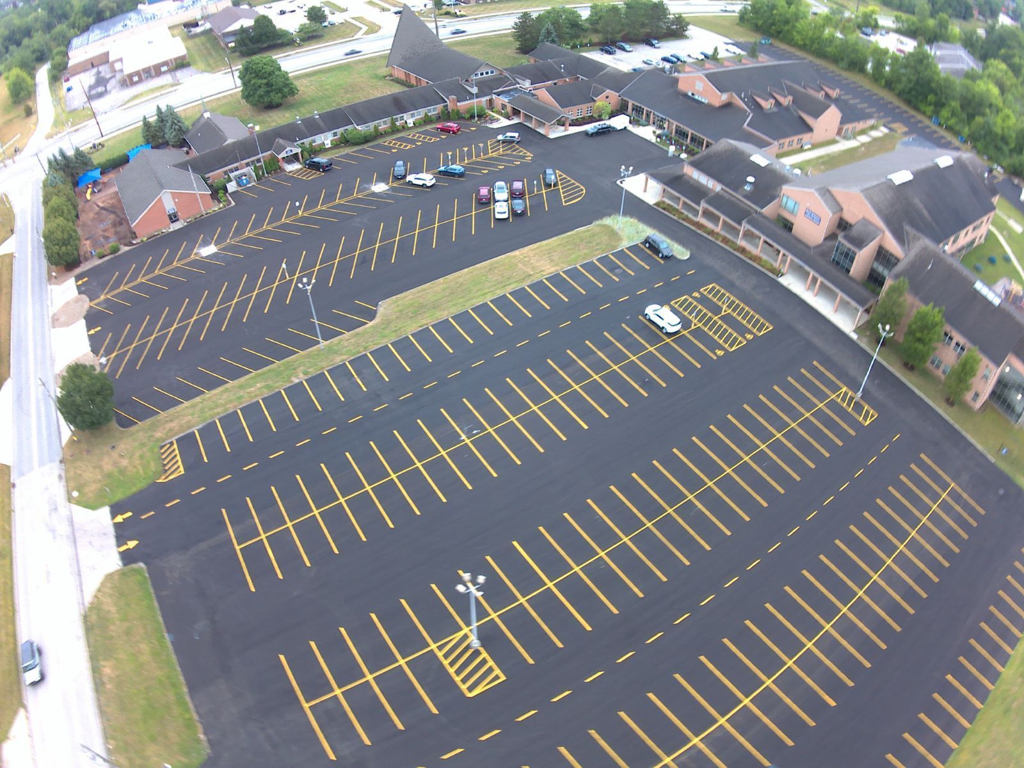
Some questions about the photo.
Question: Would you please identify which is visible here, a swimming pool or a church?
church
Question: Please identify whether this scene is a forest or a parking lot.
parking lot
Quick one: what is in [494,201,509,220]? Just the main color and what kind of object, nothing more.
white car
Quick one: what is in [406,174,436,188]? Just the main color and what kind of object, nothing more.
white car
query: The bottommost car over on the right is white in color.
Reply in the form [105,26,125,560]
[647,307,684,336]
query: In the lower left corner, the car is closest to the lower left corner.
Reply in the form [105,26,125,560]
[17,640,44,689]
